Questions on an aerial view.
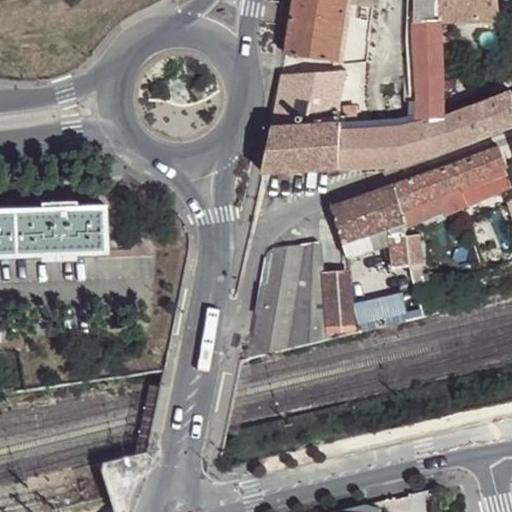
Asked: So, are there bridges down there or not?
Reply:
Yes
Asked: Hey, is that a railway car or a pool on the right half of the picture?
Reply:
pool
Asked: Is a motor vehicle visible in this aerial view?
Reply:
Yes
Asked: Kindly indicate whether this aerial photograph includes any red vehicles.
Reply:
No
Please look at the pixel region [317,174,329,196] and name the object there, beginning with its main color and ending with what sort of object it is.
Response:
white vehicle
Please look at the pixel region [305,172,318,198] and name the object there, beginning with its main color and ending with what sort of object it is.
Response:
white vehicle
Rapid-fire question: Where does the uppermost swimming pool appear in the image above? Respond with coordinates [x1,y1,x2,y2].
[479,32,496,49]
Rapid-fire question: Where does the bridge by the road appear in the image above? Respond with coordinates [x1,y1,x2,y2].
[148,361,242,454]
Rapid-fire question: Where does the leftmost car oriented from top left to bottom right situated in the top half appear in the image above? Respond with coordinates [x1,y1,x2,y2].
[152,158,176,180]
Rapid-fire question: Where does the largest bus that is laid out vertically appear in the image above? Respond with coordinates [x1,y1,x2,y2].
[196,306,220,372]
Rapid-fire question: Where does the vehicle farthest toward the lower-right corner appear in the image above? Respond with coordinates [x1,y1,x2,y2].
[424,456,448,468]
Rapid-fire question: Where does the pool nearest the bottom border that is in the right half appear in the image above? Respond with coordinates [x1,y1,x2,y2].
[452,247,470,263]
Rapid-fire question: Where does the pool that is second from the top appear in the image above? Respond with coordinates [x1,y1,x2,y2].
[491,212,512,247]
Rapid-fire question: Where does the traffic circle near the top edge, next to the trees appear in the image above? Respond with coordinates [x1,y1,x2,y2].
[96,12,262,180]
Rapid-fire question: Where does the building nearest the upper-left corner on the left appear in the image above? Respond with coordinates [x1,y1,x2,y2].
[0,200,110,262]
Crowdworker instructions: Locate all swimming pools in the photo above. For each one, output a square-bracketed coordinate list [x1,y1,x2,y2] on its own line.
[452,247,470,263]
[479,32,496,49]
[491,212,512,247]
